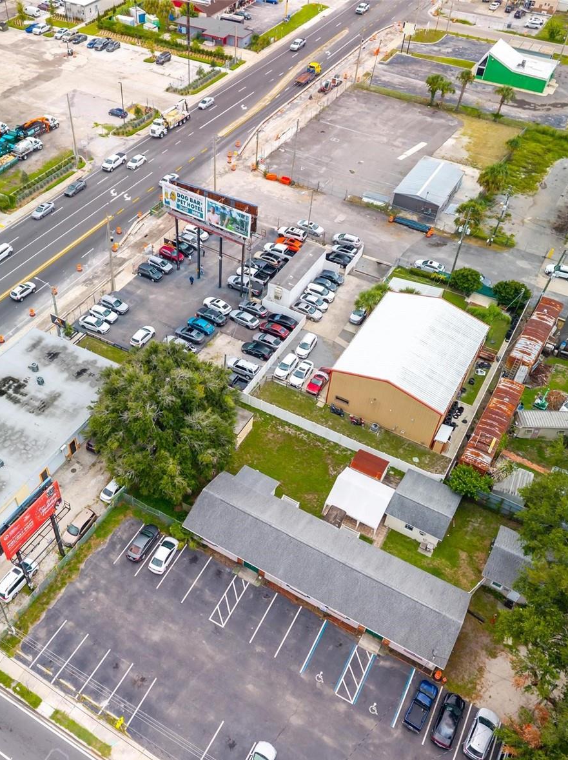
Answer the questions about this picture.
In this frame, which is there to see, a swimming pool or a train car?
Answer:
train car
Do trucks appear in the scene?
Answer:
Yes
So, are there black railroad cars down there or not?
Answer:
No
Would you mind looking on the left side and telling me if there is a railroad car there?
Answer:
No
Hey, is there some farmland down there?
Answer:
No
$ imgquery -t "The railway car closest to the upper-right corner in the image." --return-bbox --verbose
[502,302,565,386]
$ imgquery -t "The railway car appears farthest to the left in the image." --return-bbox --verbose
[456,384,524,490]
